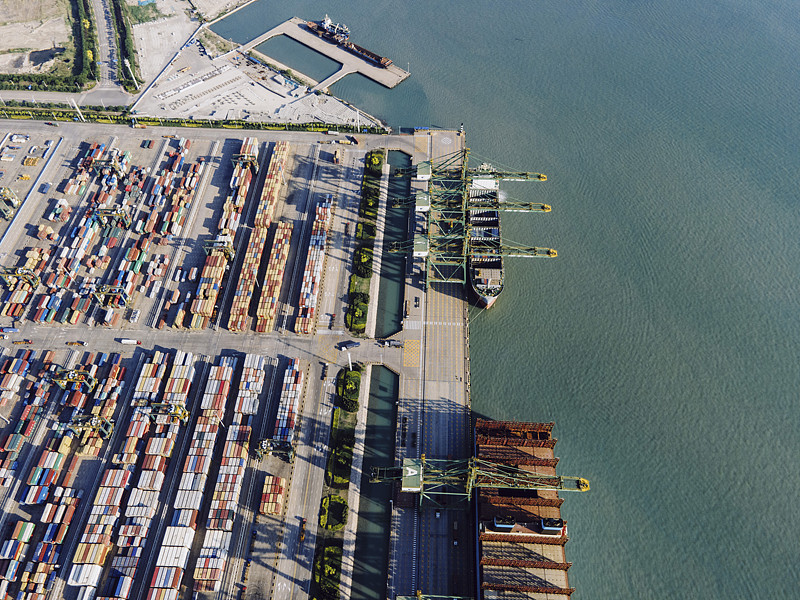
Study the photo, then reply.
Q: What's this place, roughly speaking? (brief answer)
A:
port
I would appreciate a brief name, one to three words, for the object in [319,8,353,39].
boat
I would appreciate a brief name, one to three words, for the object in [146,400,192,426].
container crane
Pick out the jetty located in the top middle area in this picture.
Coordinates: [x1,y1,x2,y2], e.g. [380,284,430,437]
[238,16,412,93]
